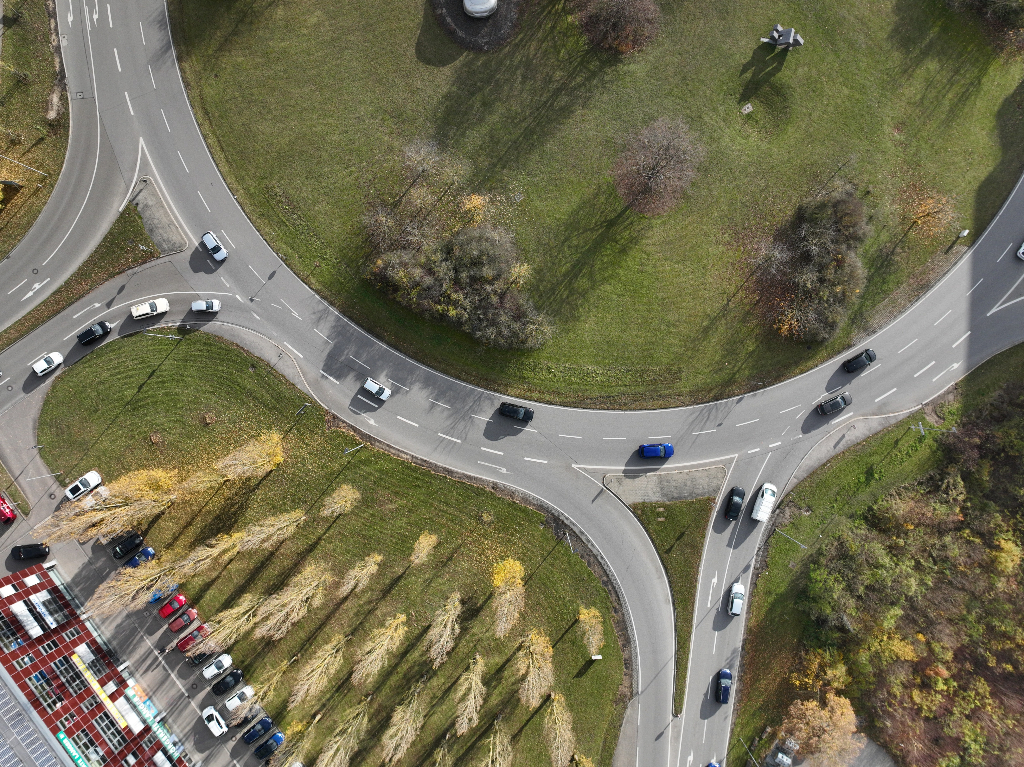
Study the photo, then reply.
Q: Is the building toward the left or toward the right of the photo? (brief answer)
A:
left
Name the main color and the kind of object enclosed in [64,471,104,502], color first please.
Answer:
white car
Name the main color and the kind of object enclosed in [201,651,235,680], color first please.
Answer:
white car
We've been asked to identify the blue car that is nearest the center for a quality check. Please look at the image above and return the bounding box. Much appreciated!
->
[638,442,674,460]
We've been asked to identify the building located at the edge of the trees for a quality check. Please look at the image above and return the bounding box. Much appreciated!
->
[0,556,201,767]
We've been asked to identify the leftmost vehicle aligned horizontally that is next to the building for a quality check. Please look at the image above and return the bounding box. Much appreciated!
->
[11,542,51,561]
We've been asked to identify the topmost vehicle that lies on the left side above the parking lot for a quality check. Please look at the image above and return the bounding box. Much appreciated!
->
[200,229,229,263]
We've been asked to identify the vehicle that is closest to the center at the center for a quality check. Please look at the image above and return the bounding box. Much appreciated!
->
[499,403,533,420]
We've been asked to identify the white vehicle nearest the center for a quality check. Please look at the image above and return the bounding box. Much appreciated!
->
[361,378,392,401]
